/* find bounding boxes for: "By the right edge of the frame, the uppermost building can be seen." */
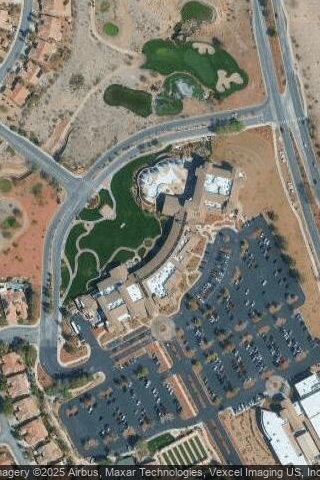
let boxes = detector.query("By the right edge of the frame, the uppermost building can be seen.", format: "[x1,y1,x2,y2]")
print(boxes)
[294,376,320,401]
